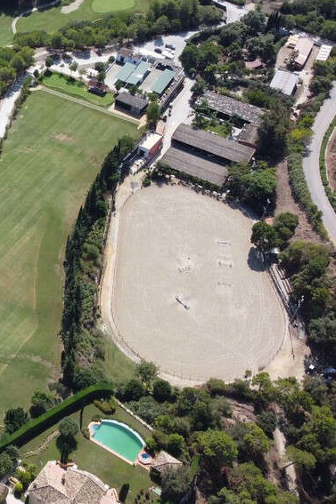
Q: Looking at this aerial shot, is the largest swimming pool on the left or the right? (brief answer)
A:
left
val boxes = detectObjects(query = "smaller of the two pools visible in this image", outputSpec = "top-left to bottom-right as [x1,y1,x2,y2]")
[137,450,152,463]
